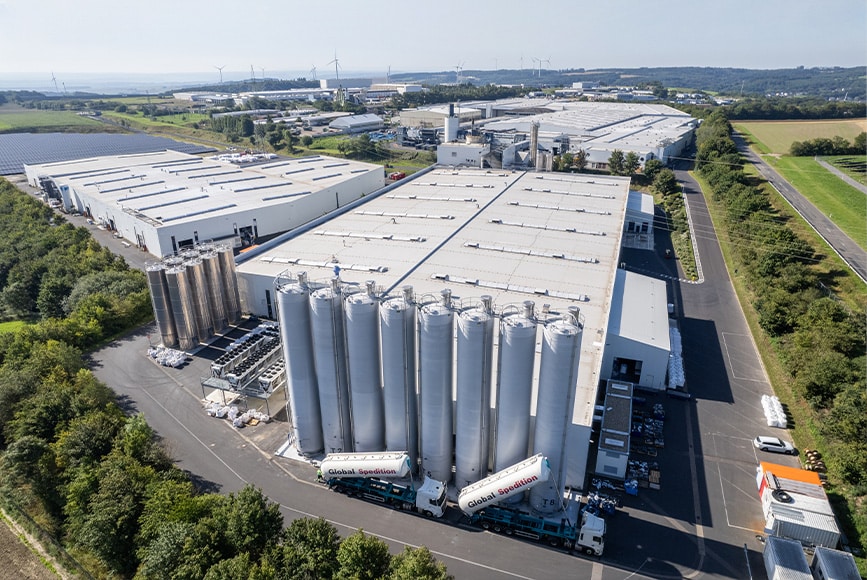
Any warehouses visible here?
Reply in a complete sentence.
Yes, the frame does contain a warehouse.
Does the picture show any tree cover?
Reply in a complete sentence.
Yes, there is tree cover in the image.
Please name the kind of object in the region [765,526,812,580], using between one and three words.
building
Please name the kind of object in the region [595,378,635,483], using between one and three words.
building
